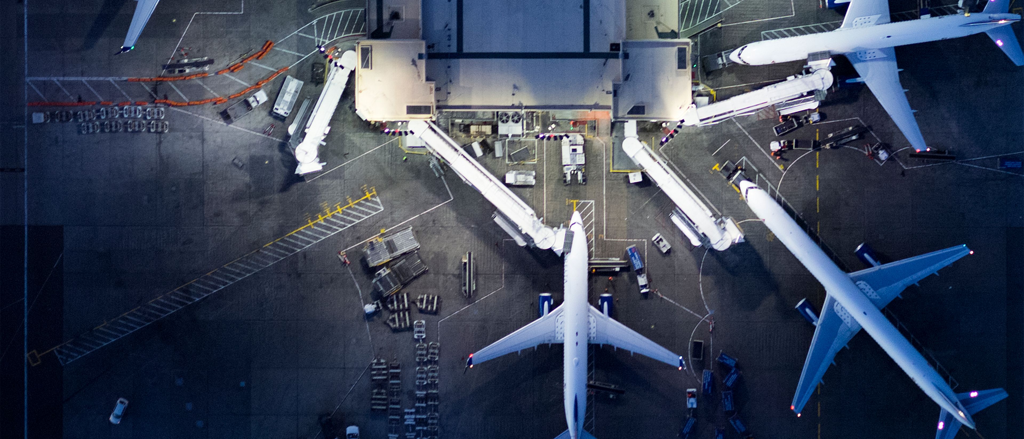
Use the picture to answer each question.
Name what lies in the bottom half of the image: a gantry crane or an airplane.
airplane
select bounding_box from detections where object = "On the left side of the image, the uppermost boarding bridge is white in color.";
[288,49,356,174]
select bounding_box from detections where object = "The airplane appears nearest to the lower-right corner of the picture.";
[739,180,1011,439]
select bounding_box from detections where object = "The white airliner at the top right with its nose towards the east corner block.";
[730,0,1024,153]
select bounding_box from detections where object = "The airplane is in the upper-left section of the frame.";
[110,0,159,56]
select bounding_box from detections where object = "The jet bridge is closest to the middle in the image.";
[408,120,574,257]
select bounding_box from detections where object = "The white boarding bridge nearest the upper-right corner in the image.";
[681,51,835,127]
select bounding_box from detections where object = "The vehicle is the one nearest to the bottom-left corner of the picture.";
[109,396,130,426]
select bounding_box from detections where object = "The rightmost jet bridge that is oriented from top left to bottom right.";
[621,121,744,251]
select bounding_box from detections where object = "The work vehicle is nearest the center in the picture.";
[505,169,536,186]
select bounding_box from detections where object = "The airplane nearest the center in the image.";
[463,211,689,439]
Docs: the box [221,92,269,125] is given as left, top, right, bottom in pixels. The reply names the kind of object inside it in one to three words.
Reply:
truck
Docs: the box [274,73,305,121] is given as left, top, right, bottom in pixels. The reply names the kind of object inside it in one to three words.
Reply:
truck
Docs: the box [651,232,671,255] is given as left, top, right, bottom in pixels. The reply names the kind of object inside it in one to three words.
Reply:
vehicle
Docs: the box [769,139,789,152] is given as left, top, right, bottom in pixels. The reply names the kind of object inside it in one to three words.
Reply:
vehicle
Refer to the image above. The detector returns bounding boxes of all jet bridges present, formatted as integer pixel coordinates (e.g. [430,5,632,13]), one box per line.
[621,121,744,251]
[288,49,356,174]
[408,120,574,257]
[681,51,835,127]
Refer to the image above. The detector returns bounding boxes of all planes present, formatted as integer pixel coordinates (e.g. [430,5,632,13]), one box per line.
[730,0,1024,153]
[463,211,689,439]
[739,180,1011,439]
[110,0,159,56]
